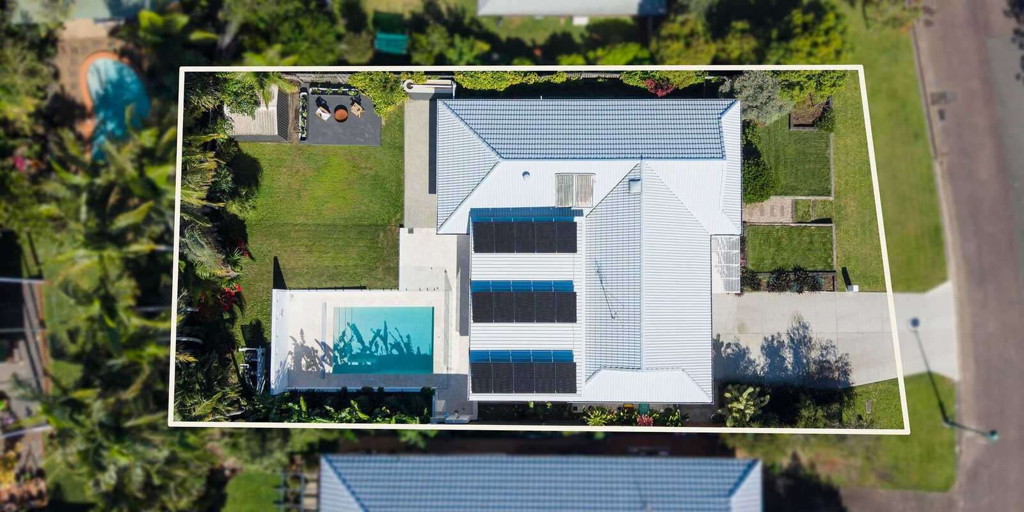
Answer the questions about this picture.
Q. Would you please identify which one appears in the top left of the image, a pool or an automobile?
pool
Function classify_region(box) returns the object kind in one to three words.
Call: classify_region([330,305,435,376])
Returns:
swimming pool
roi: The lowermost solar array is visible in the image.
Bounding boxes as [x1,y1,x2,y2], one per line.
[474,357,577,393]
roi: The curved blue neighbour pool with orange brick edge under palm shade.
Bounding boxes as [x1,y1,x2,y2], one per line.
[77,51,152,167]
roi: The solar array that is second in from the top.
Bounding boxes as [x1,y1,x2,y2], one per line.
[474,288,577,323]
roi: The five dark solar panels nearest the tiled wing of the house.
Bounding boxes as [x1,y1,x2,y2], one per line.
[474,219,577,253]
